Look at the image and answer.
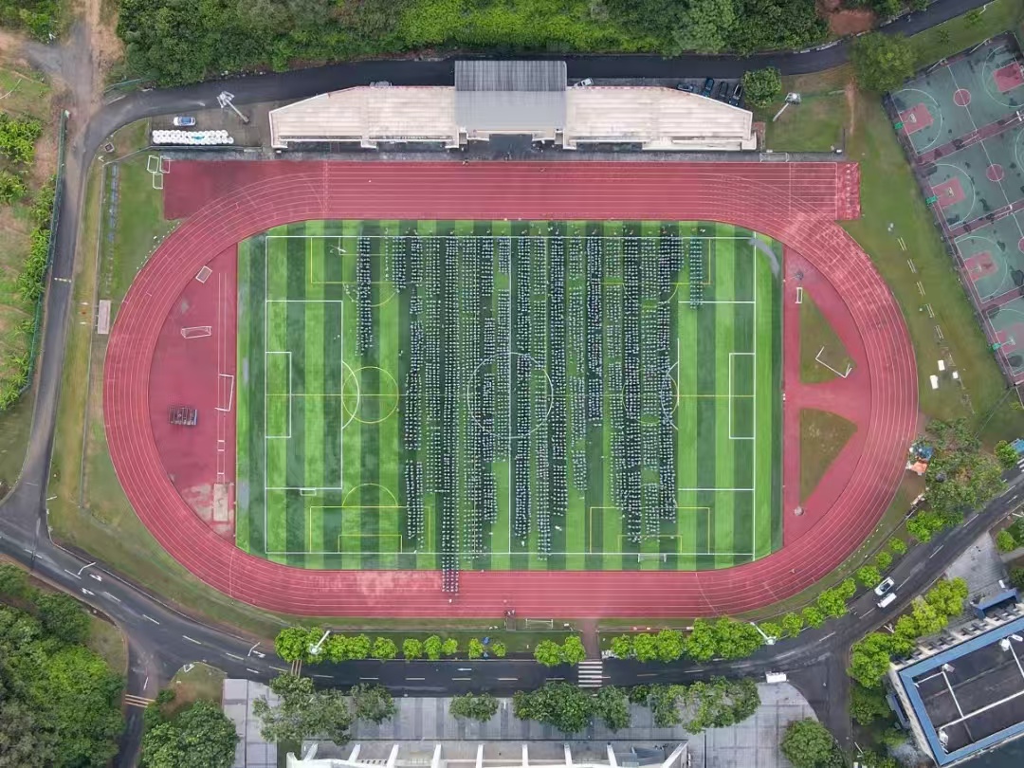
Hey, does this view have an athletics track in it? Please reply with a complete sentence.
Yes, the photo shows an athletics track.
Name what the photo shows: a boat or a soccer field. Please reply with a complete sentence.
The image shows a soccer field.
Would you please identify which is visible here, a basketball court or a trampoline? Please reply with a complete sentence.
Visible in the photo is a basketball court.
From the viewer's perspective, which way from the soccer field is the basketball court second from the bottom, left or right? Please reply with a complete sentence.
From the viewer's perspective, the basketball court second from the bottom falls to the right of the soccer field.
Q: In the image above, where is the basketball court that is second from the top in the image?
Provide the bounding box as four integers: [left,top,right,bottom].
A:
[917,122,1024,241]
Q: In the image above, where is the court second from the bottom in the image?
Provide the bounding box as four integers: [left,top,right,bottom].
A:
[949,210,1024,316]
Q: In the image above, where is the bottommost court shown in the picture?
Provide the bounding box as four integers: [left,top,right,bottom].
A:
[982,298,1024,390]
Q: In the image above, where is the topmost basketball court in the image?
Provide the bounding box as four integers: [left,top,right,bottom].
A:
[882,33,1024,168]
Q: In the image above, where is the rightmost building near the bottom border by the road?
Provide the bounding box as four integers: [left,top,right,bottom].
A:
[884,601,1024,768]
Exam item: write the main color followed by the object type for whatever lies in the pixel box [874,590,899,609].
white vehicle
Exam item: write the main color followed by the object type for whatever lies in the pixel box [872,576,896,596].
white car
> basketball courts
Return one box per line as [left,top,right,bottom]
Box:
[917,122,1024,241]
[949,210,1024,316]
[882,33,1024,168]
[982,298,1024,390]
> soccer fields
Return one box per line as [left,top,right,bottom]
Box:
[235,221,783,570]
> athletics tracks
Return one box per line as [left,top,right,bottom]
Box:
[101,160,918,619]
